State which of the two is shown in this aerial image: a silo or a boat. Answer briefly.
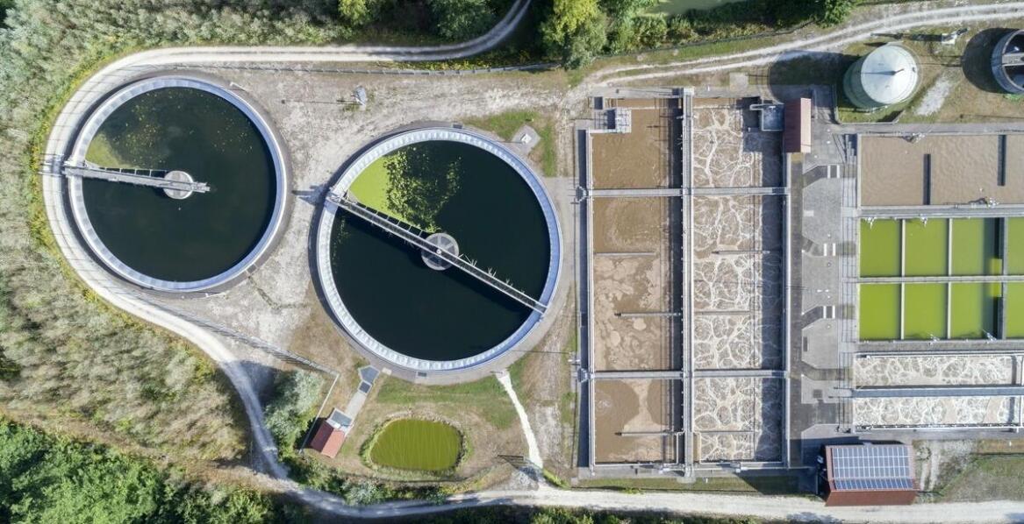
silo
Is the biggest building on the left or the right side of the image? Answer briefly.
right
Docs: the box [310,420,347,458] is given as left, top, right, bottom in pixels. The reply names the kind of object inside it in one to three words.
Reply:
shed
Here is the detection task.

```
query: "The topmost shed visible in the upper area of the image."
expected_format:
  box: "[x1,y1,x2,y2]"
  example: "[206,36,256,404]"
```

[777,98,812,154]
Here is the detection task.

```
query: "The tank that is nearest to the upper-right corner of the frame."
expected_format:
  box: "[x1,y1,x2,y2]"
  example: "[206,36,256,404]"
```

[991,29,1024,95]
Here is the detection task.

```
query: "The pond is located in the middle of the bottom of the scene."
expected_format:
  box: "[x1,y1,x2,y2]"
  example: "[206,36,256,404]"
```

[371,419,459,467]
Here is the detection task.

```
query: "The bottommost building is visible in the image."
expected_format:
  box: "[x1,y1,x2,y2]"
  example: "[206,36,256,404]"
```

[817,440,921,506]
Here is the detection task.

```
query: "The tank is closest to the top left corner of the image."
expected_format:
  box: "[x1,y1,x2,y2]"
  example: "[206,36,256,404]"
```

[66,75,284,291]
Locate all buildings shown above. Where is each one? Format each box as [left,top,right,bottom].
[310,420,347,458]
[817,440,921,506]
[777,98,812,154]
